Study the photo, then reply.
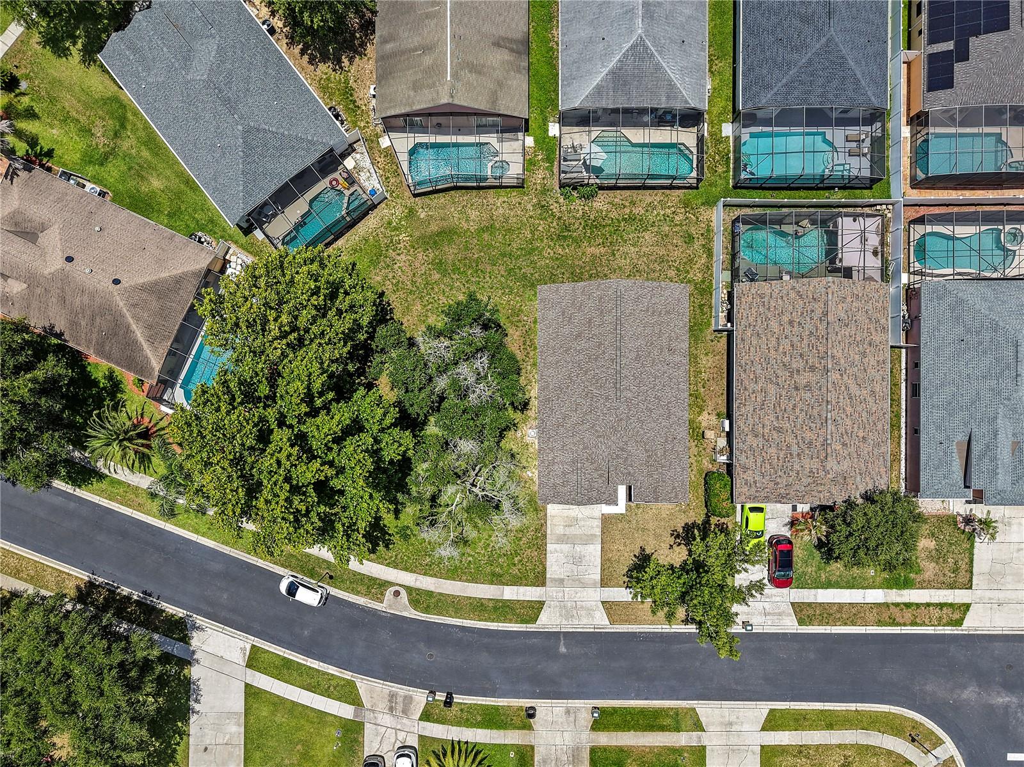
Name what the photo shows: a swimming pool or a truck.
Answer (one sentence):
Looking from above, you can make out a swimming pool.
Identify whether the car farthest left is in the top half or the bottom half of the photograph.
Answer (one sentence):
The bottom half of the photo is where the car farthest left is.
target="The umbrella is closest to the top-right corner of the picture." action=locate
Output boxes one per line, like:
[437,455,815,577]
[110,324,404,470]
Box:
[792,215,812,233]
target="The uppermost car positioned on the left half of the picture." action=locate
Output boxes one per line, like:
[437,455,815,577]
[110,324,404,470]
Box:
[278,572,331,608]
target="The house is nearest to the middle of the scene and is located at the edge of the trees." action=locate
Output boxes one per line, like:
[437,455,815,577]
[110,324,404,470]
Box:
[538,279,689,504]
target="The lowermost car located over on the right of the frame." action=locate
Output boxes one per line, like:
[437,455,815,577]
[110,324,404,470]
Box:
[768,534,797,588]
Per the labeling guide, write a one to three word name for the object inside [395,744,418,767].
car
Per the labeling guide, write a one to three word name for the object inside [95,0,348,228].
house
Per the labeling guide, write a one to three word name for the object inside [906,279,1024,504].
house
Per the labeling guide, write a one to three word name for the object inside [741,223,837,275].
swimming pool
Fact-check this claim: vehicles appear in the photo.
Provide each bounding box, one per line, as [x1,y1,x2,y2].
[768,534,797,588]
[742,504,770,552]
[363,753,387,767]
[278,572,331,608]
[395,744,418,767]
